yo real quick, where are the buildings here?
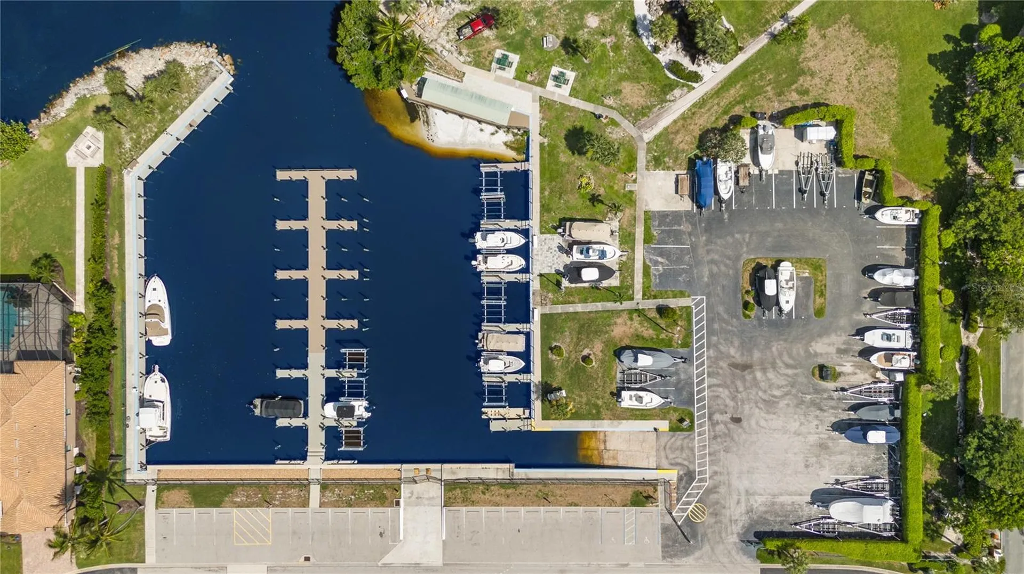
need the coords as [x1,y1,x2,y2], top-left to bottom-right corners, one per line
[421,78,512,129]
[0,360,74,538]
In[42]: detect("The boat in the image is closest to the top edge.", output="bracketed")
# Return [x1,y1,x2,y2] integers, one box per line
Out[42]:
[755,113,773,170]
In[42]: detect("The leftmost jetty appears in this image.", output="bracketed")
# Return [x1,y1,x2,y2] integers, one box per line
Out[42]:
[125,85,235,472]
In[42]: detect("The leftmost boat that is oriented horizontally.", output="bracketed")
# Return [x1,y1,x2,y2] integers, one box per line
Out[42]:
[247,395,305,416]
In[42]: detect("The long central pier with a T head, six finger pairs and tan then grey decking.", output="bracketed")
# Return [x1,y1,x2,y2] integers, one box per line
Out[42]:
[273,167,359,464]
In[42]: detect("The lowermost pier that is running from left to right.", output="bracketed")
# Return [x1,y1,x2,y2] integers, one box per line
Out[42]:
[490,418,530,433]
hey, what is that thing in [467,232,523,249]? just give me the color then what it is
white boat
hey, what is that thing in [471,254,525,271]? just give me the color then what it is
white boat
